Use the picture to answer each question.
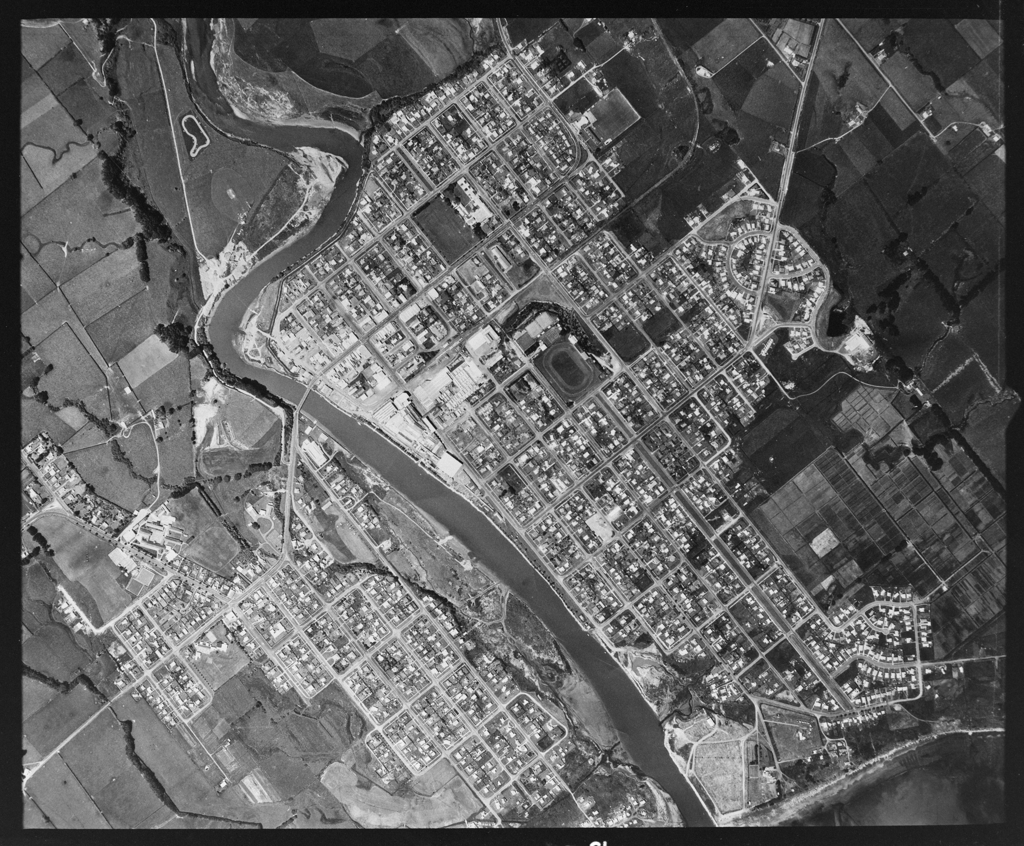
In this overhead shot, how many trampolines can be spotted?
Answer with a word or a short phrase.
none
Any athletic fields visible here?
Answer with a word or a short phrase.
Yes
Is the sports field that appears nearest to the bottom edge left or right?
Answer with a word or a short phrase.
left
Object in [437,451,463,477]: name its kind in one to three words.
building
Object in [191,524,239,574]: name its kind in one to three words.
sports field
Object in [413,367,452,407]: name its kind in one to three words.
building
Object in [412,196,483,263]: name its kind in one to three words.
sports field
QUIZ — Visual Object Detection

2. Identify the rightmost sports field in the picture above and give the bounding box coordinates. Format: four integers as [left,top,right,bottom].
[590,88,641,141]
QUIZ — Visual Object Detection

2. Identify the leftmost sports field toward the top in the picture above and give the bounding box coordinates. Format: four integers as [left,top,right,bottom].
[210,168,254,221]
